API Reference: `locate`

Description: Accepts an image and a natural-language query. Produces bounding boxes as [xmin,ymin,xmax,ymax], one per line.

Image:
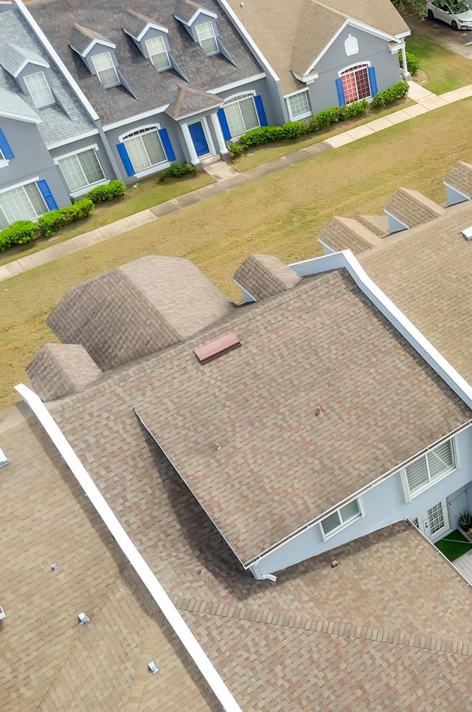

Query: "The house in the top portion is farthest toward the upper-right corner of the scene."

[224,0,419,122]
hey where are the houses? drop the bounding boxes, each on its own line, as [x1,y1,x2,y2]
[22,0,279,182]
[224,0,419,122]
[25,252,472,712]
[319,162,472,385]
[0,9,113,230]
[0,394,223,712]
